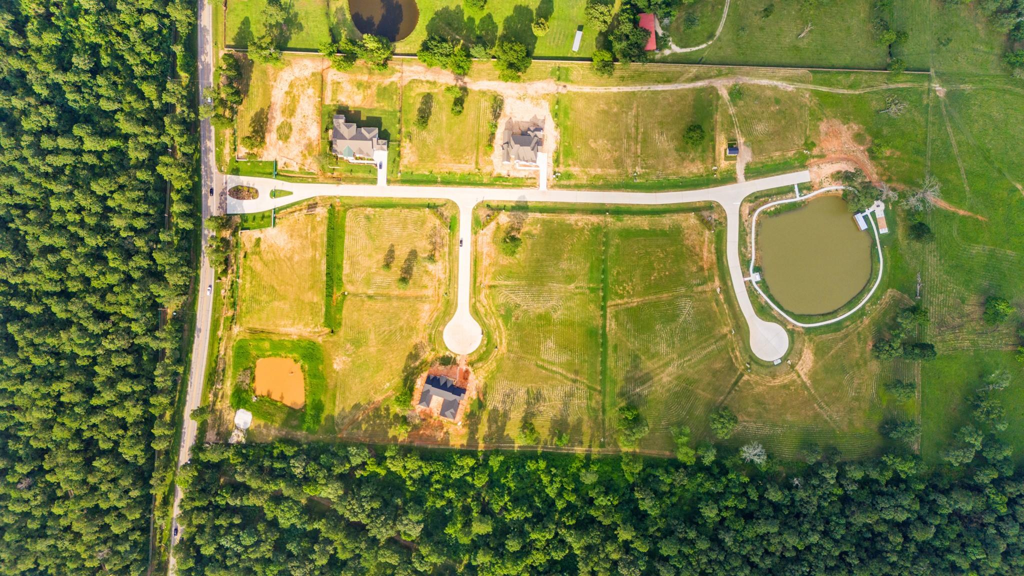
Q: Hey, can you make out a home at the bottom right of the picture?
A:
No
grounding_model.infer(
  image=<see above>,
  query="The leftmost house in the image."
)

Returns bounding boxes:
[330,114,388,161]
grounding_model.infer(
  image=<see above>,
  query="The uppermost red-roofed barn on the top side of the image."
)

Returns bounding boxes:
[636,13,656,53]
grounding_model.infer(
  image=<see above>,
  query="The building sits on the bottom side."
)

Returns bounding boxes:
[420,373,470,422]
